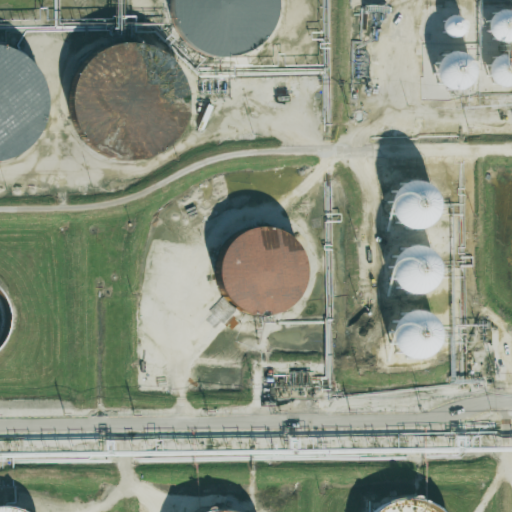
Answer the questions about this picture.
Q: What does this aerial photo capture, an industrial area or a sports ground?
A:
industrial area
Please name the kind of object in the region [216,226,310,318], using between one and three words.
storage tank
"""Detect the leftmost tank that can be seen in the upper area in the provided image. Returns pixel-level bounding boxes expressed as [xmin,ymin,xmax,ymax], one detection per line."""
[0,44,46,158]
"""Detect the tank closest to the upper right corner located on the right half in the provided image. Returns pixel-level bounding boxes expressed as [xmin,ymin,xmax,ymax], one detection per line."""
[484,10,512,46]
